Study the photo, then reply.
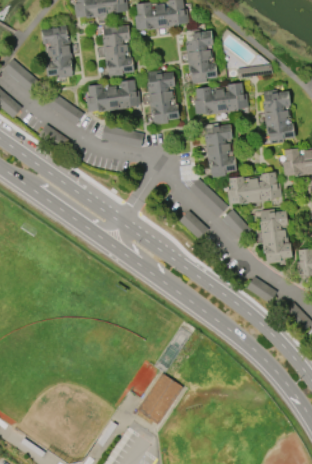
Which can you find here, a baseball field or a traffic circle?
baseball field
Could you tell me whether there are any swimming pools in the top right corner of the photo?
Yes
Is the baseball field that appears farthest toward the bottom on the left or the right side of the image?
right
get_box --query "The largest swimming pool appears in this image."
[222,29,270,77]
